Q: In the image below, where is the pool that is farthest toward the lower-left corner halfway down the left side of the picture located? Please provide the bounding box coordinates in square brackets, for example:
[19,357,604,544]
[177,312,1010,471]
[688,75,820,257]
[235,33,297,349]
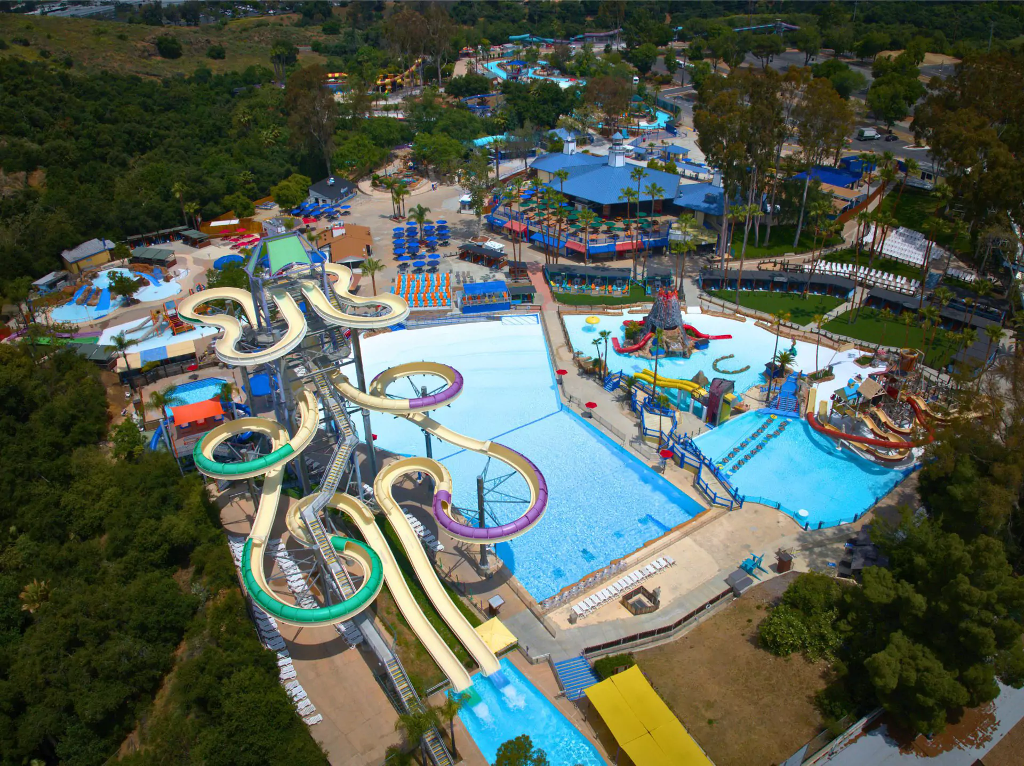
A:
[164,377,230,425]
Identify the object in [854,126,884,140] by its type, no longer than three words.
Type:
vehicle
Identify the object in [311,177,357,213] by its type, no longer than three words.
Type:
building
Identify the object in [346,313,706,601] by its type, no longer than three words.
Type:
swimming pool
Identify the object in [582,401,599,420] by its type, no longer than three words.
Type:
umbrella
